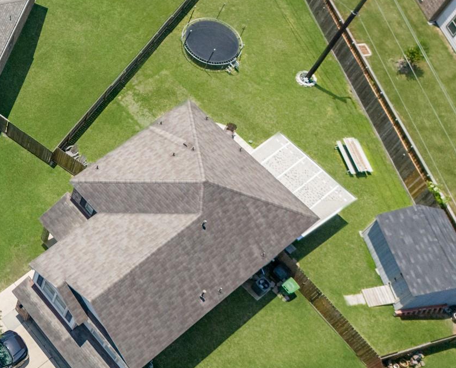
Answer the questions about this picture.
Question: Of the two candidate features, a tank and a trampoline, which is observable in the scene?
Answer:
trampoline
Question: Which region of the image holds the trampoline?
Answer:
top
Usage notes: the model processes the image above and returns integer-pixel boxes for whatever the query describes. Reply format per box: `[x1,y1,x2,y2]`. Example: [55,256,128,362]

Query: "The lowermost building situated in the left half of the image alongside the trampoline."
[12,100,321,368]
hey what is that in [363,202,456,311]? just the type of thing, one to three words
shed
